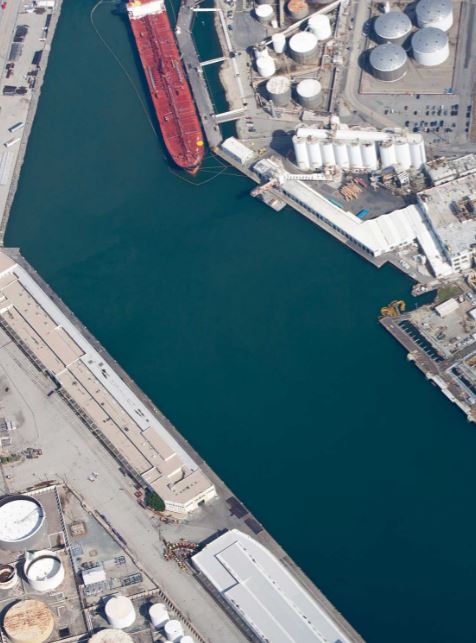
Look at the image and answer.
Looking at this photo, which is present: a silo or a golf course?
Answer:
silo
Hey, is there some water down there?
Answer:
Yes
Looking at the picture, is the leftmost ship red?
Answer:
Yes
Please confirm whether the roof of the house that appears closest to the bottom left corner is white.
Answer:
Yes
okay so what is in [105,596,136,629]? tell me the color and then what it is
white storage tank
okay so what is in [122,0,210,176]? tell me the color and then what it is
red ship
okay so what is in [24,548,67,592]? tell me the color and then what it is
white storage tank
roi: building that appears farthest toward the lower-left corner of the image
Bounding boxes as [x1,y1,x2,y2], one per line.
[82,567,108,588]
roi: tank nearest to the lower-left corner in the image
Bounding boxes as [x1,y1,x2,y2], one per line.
[4,598,57,643]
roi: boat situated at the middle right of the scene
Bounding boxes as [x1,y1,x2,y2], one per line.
[411,284,438,298]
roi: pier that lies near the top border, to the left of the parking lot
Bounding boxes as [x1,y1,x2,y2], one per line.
[176,0,221,147]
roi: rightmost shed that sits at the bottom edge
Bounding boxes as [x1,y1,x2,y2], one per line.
[188,529,350,643]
